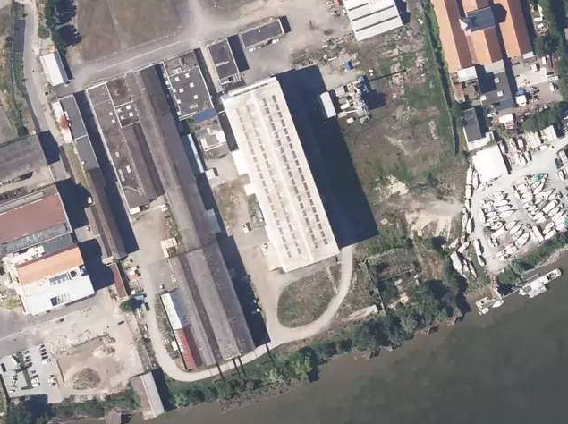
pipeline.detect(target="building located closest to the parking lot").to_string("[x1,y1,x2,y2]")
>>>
[22,266,97,315]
